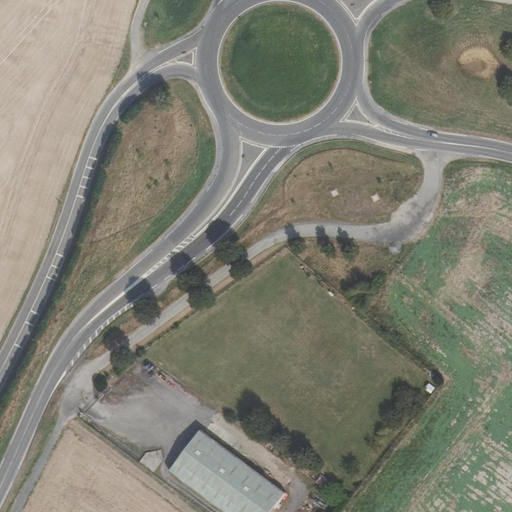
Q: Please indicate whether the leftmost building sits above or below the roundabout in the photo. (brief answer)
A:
below it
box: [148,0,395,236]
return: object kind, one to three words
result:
roundabout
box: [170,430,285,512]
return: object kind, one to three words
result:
building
